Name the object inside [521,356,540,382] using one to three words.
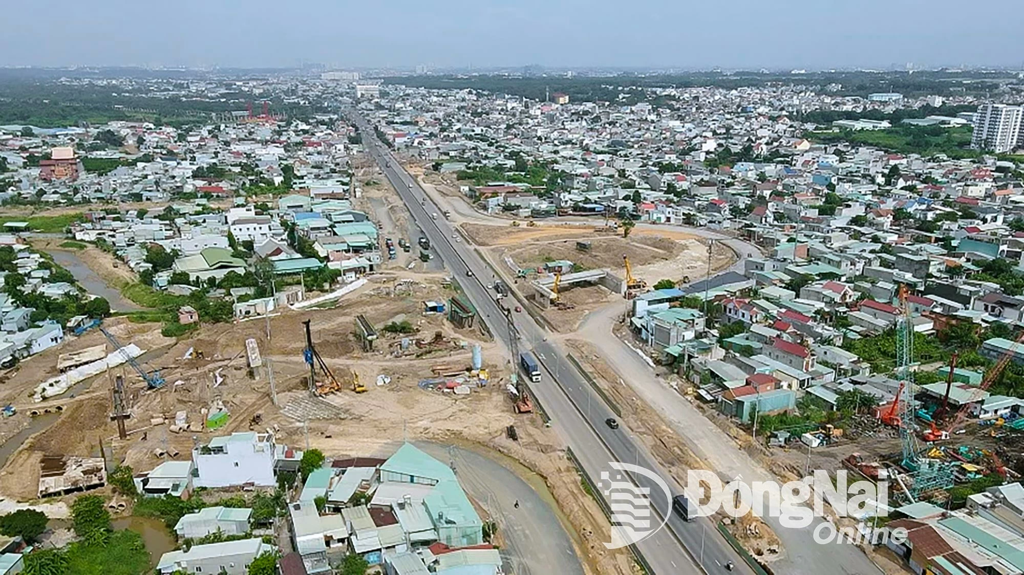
vehicle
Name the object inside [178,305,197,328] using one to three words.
house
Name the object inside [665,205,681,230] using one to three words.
house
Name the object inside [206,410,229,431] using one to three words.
shed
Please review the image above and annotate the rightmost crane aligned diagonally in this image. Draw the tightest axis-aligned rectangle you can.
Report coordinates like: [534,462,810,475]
[924,333,1024,447]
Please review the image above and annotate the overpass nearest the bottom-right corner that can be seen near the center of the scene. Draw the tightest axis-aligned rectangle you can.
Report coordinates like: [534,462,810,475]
[530,266,629,310]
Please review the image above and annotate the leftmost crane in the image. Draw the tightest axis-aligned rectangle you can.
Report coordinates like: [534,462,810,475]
[99,326,169,389]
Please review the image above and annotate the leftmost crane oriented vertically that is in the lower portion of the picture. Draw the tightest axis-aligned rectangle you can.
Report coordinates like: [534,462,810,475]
[497,299,541,415]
